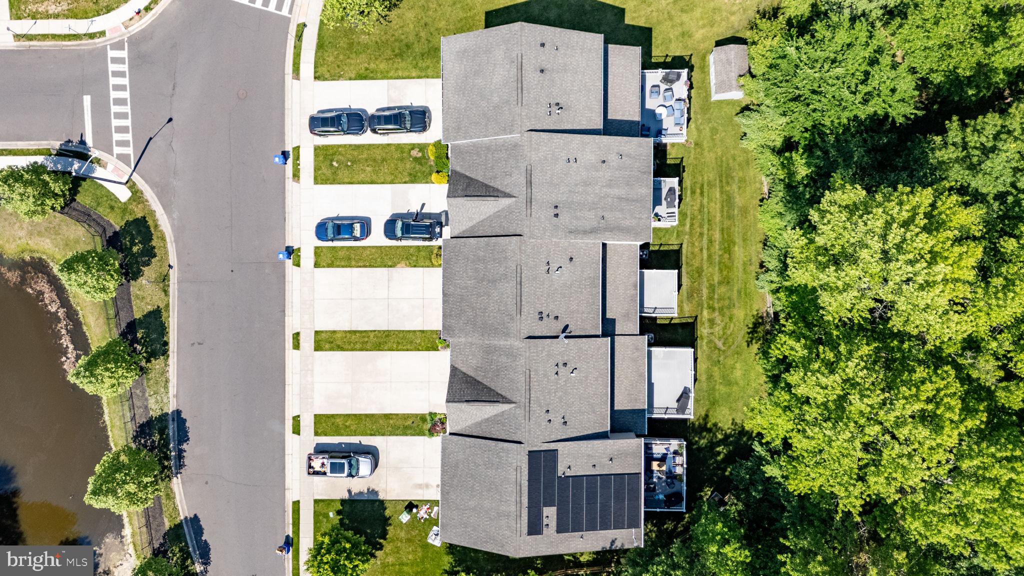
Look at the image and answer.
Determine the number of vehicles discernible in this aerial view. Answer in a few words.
5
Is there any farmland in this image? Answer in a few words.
No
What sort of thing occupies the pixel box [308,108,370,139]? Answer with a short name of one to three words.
car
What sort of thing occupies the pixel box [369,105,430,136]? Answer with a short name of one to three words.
car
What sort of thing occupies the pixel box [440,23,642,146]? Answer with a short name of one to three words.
house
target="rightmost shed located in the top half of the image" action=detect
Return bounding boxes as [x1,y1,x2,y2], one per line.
[709,45,748,101]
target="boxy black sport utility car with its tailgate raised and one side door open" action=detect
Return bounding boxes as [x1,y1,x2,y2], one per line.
[380,206,446,245]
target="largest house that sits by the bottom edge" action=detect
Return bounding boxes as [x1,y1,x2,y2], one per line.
[439,432,644,556]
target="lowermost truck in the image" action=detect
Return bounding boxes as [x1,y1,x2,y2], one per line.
[306,450,377,481]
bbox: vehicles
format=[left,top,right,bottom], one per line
[306,450,377,481]
[380,206,446,245]
[314,217,371,245]
[369,105,430,136]
[308,108,370,139]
